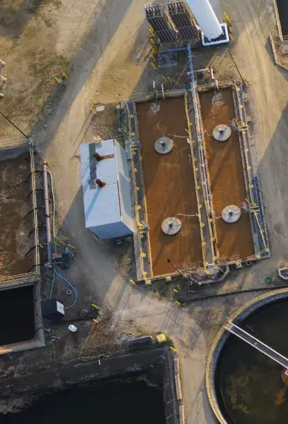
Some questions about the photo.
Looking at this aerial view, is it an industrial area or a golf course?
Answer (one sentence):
It's an industrial area.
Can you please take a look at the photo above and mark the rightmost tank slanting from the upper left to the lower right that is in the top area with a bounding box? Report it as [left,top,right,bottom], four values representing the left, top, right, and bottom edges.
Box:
[184,0,230,46]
